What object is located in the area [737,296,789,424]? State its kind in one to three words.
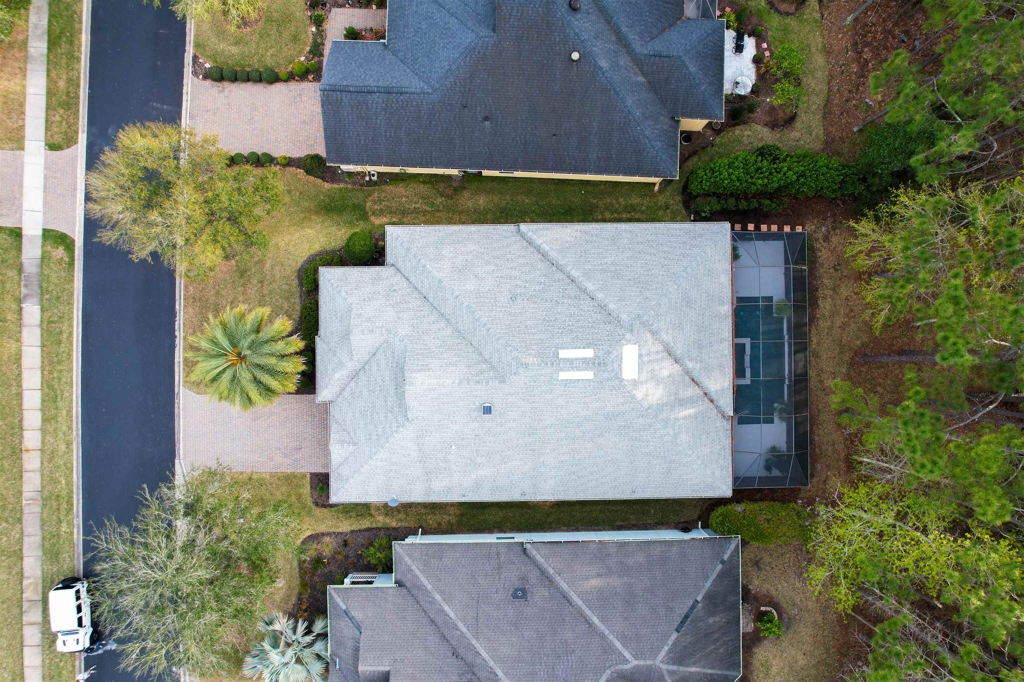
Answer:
swimming pool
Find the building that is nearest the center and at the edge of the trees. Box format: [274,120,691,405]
[314,220,734,505]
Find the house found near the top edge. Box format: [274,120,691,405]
[320,0,726,191]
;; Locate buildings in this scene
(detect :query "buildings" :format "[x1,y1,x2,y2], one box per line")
[314,220,734,505]
[320,0,726,191]
[326,521,743,682]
